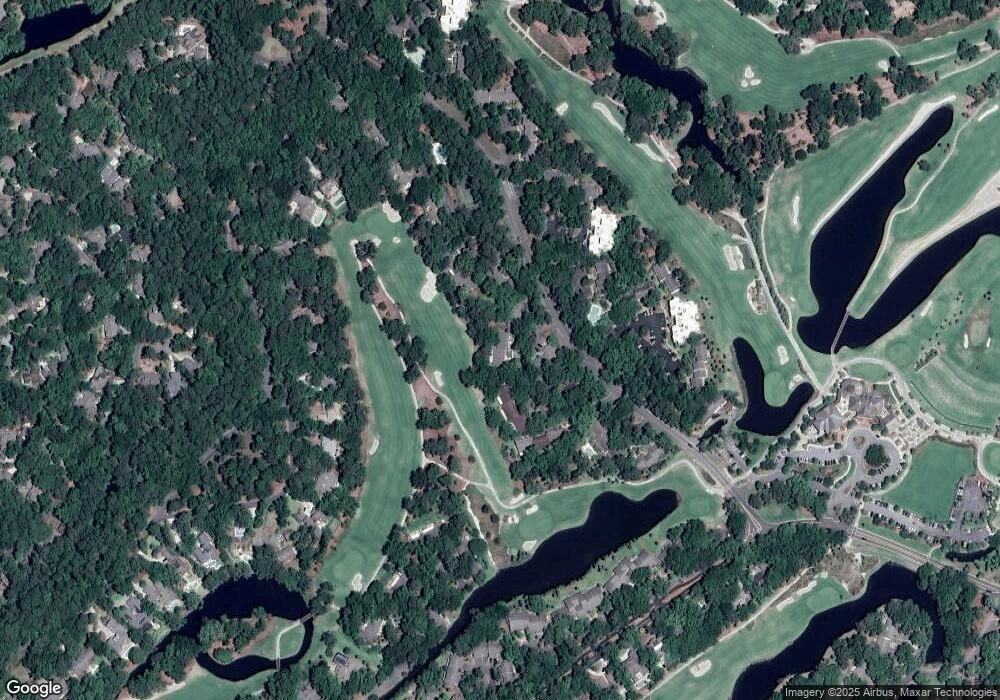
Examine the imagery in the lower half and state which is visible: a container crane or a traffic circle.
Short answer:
traffic circle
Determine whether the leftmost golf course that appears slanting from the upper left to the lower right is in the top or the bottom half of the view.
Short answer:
top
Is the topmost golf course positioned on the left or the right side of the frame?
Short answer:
right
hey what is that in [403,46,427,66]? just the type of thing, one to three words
swimming pool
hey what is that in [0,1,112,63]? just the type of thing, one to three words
pond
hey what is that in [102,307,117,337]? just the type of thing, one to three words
house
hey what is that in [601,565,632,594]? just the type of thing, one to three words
building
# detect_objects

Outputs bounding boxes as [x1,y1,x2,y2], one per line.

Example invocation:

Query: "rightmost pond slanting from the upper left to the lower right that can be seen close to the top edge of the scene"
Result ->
[571,0,731,174]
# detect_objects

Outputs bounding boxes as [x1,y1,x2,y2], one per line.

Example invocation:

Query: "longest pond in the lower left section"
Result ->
[127,574,315,684]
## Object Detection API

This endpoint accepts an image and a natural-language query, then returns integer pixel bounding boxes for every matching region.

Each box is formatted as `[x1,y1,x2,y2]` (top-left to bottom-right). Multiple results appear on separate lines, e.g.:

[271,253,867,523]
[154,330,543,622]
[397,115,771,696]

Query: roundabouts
[846,429,900,495]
